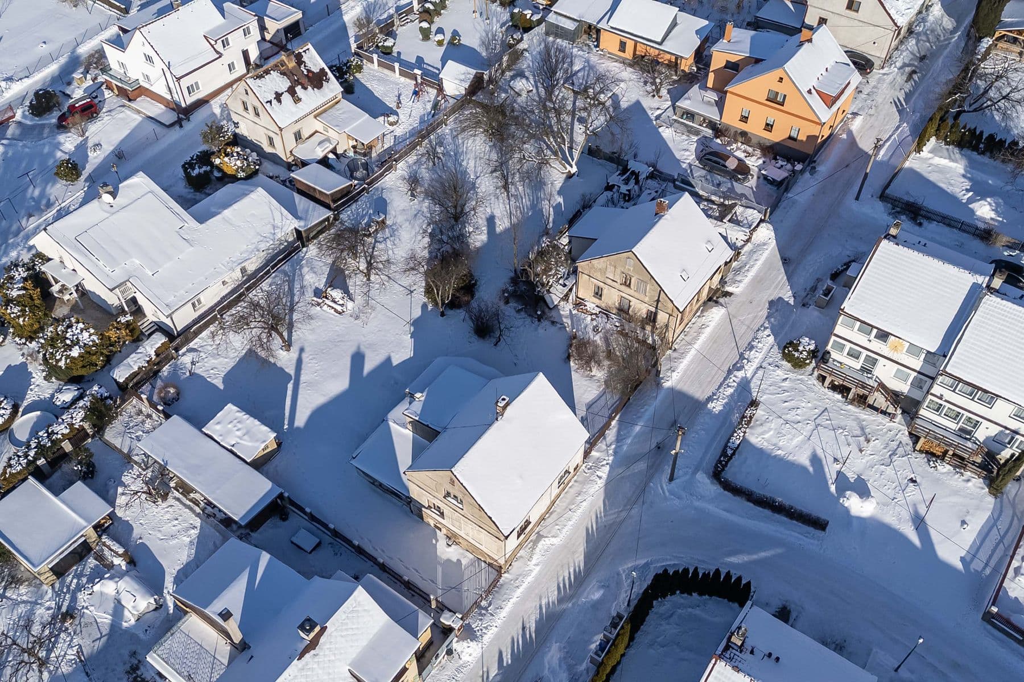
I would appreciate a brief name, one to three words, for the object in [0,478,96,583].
shed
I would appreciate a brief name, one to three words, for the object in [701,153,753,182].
car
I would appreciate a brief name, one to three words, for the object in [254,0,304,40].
building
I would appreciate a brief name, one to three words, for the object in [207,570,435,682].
house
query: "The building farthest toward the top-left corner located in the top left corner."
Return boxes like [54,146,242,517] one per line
[98,0,270,114]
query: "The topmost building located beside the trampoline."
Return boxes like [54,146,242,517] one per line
[225,44,389,167]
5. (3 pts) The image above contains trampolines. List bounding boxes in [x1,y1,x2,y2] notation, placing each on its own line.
[341,151,371,184]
